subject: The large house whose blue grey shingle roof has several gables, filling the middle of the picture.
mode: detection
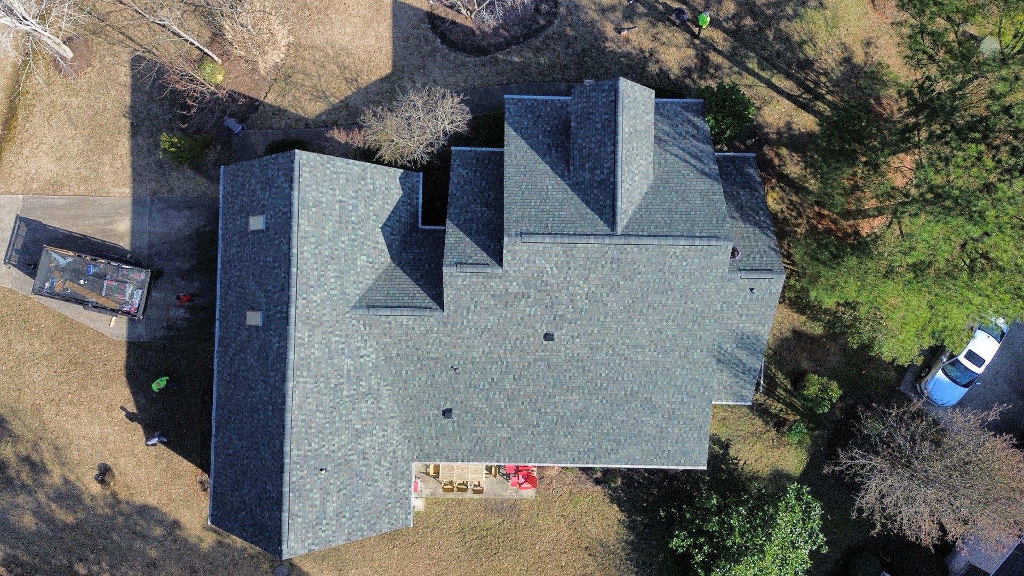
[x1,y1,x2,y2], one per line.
[204,77,785,559]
